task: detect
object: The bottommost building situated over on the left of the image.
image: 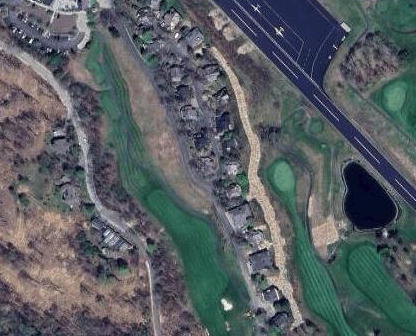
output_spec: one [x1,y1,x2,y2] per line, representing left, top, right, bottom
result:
[98,225,132,251]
